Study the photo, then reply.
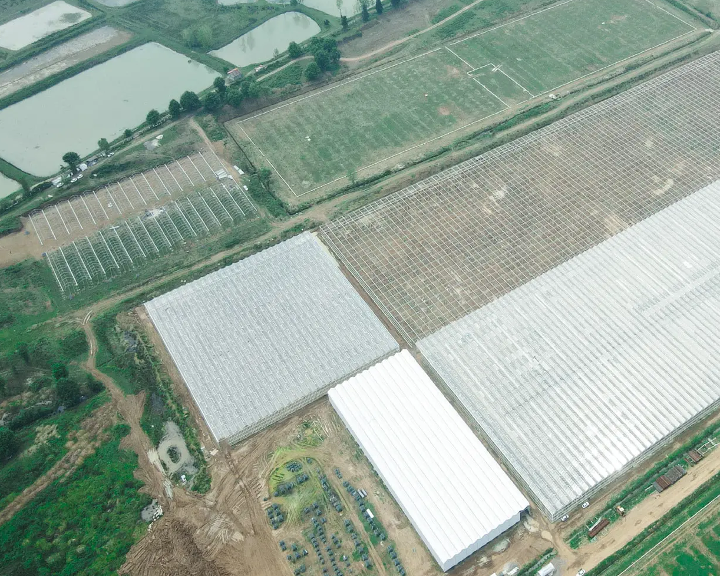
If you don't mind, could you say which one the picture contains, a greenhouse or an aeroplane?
greenhouse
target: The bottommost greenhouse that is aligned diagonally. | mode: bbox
[329,352,530,568]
